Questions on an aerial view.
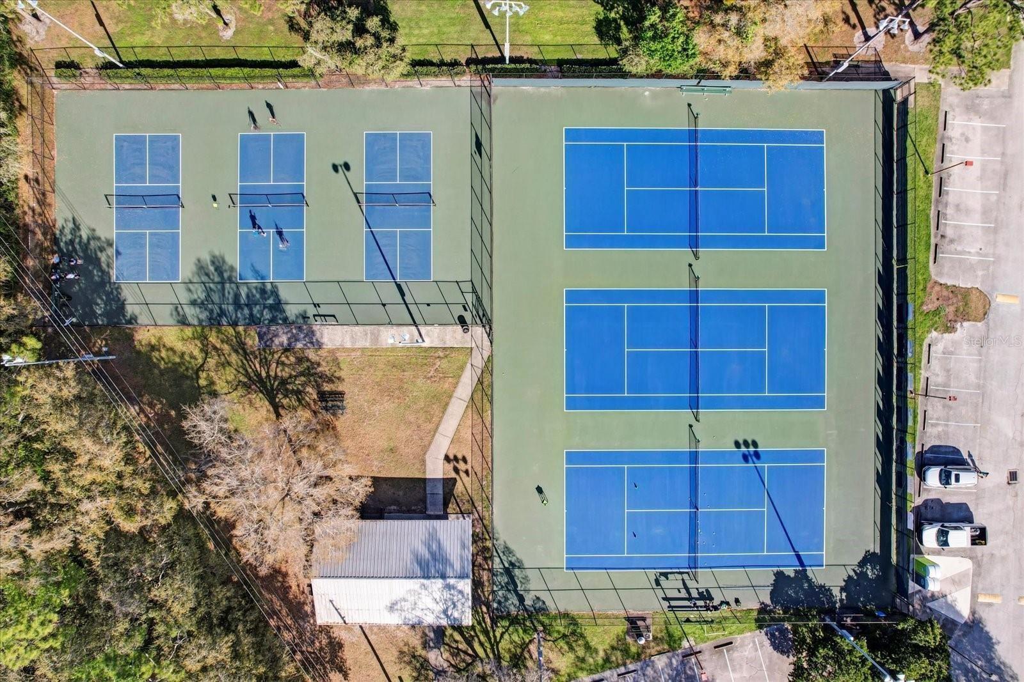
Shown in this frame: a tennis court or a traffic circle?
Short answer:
tennis court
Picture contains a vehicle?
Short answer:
Yes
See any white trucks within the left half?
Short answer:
No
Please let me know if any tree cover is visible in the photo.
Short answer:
Yes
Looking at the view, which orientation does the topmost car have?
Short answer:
from left to right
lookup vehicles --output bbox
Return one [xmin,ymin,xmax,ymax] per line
[924,523,995,553]
[923,463,984,490]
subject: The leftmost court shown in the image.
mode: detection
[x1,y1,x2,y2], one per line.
[114,133,181,282]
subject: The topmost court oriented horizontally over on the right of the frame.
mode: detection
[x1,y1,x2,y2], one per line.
[564,127,826,251]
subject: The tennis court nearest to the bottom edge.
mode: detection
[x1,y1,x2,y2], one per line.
[564,448,827,571]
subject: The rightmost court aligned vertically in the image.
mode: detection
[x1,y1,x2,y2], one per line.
[364,131,432,281]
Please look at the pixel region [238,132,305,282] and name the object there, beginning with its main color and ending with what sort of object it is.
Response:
blue sports court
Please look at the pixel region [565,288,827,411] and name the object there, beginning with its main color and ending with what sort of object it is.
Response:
blue tennis court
